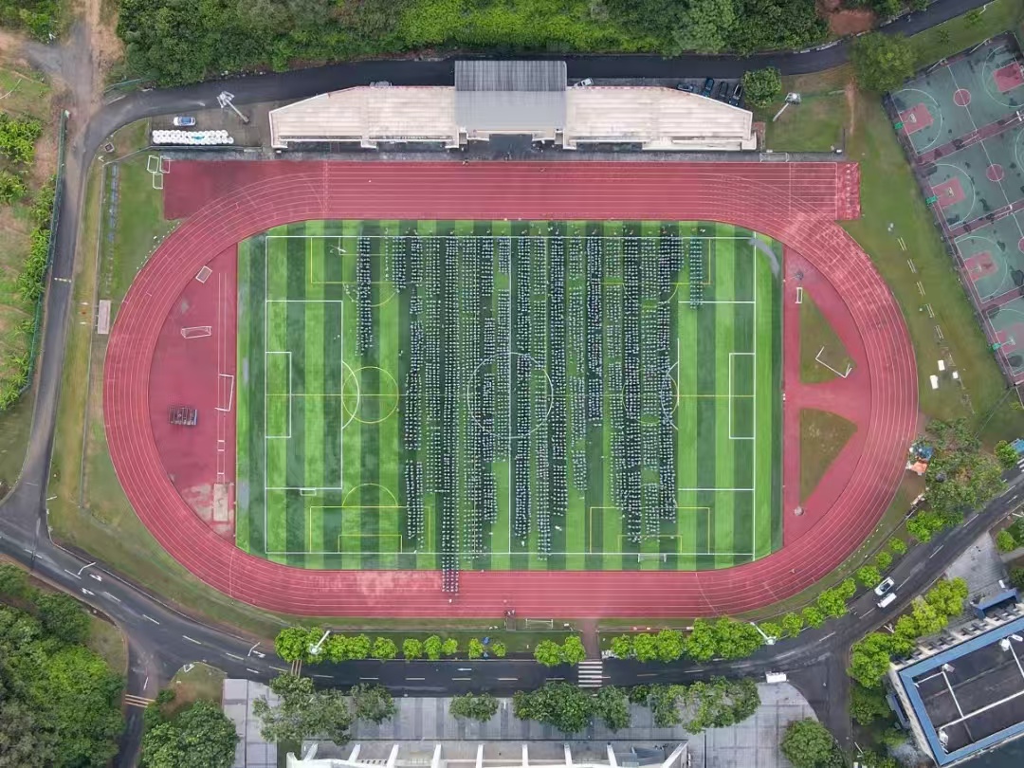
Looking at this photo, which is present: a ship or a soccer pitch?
soccer pitch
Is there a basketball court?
Yes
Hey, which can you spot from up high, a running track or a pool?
running track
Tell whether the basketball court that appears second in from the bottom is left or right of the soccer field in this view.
right of it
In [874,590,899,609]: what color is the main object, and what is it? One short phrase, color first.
white vehicle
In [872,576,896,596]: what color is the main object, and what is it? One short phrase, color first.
white car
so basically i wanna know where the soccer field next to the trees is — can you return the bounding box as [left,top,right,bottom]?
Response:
[235,221,783,570]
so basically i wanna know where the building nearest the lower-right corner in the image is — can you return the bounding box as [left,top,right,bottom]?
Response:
[884,601,1024,768]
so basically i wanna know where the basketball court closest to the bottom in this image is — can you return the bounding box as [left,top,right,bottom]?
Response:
[982,298,1024,390]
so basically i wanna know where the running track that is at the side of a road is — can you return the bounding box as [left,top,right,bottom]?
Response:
[101,160,918,619]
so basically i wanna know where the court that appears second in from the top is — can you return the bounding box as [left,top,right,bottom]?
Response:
[917,122,1024,241]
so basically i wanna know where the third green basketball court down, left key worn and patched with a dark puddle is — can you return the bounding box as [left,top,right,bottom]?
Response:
[949,210,1024,316]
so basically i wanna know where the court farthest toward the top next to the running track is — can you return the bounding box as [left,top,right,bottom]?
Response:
[882,33,1024,168]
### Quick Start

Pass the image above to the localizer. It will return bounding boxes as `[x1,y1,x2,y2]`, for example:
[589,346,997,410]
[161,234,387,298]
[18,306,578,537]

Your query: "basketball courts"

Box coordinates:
[882,33,1024,168]
[917,122,1024,241]
[982,298,1024,390]
[949,210,1024,316]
